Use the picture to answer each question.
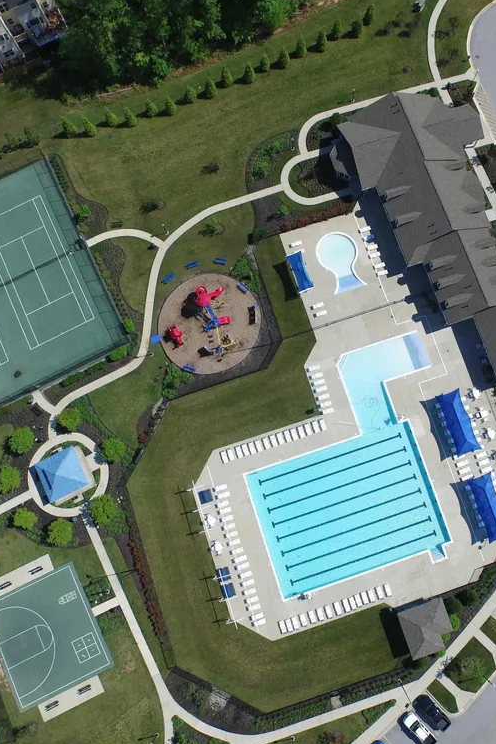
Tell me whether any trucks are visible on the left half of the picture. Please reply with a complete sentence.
No, there is no truck on the left half of the picture.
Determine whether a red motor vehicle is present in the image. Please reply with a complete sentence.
No, I find no red motor vehicle anywhere in the image.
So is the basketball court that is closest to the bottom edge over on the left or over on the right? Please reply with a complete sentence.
The basketball court that is closest to the bottom edge appears in the left half of the scene.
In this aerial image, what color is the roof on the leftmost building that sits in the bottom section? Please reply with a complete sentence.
The roof of the leftmost building that sits in the bottom section is blue.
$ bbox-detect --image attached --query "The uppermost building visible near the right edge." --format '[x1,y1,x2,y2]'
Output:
[329,94,496,378]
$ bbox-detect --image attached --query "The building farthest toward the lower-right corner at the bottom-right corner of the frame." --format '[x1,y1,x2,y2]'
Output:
[398,597,453,660]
